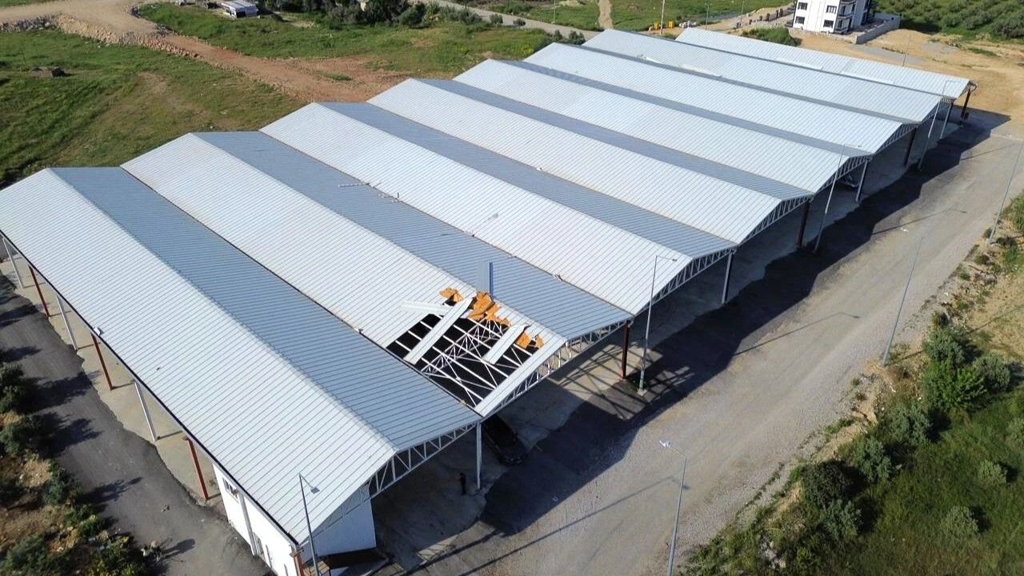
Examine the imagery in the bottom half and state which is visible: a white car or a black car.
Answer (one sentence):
Visible in the bottom half is a black car.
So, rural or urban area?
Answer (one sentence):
The area shown here is urban.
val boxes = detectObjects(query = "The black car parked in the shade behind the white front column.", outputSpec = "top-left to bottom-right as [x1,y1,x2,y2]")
[486,412,526,464]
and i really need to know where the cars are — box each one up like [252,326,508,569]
[486,412,526,464]
[828,174,846,187]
